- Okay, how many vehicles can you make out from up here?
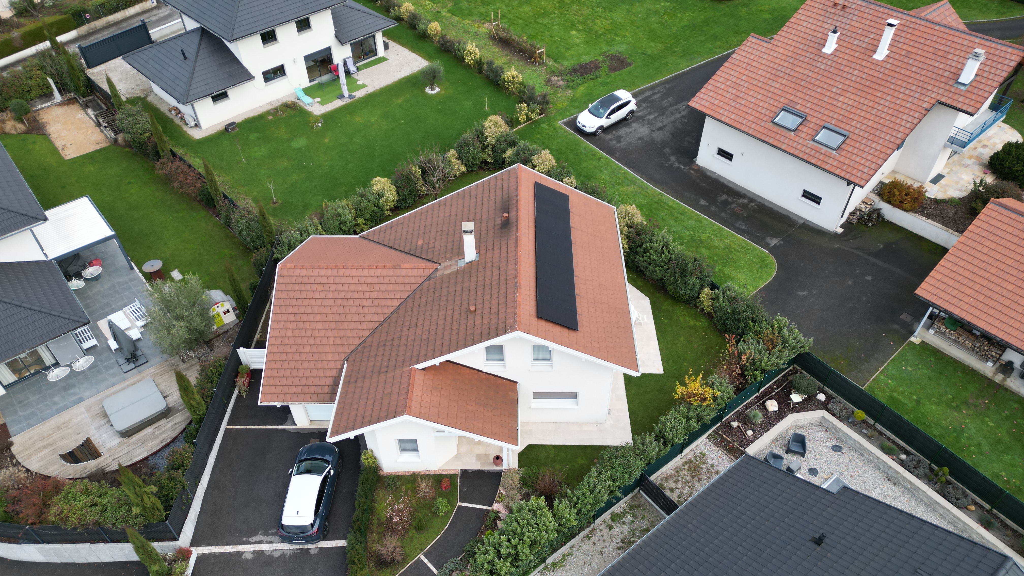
two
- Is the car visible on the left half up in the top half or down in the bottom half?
bottom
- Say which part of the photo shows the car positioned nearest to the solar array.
top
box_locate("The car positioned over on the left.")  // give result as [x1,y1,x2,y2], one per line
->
[274,442,342,546]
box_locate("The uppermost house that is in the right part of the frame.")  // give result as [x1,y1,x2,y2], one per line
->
[686,0,1024,237]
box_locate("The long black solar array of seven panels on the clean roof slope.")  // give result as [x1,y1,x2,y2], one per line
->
[534,181,580,331]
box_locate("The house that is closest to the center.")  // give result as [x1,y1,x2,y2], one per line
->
[257,163,645,470]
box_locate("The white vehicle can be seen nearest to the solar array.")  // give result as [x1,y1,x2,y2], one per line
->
[575,90,638,136]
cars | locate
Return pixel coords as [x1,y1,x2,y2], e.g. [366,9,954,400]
[274,442,342,546]
[575,90,638,136]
